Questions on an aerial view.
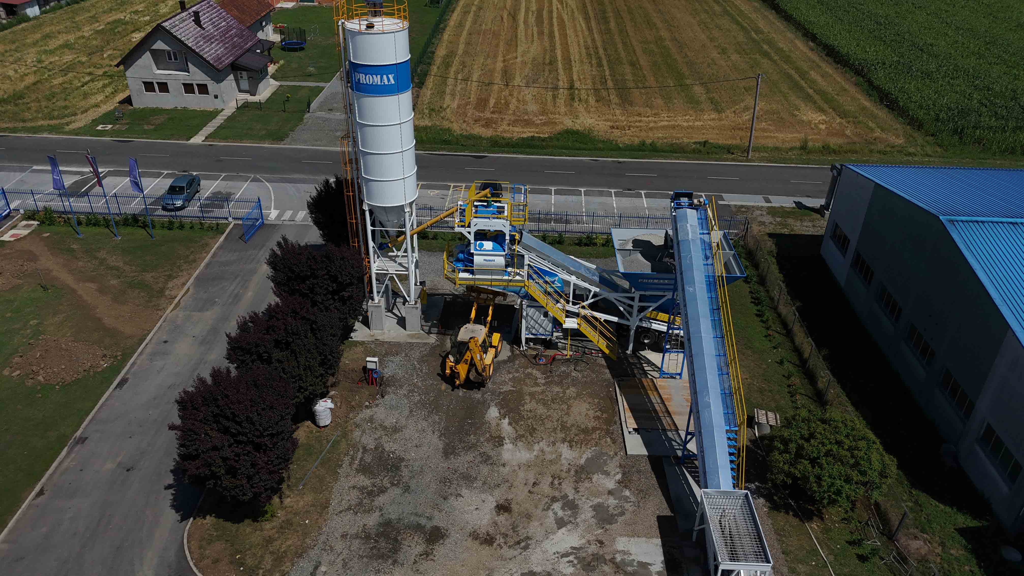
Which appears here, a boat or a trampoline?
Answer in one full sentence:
I can see a trampoline in this picture.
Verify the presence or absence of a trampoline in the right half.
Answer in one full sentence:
No, no trampoline can be made out in the right half.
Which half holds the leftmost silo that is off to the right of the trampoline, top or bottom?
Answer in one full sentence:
Seen from above, the leftmost silo that is off to the right of the trampoline lies in the top half of the view.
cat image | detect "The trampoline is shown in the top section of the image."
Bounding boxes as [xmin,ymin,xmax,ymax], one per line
[277,28,306,53]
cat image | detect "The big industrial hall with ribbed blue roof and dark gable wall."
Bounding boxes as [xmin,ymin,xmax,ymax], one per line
[818,162,1024,531]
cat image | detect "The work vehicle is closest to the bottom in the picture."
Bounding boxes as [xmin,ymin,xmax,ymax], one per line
[441,290,505,387]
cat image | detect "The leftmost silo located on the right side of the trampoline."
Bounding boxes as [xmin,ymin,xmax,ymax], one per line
[326,0,430,335]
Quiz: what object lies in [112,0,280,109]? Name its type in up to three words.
house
